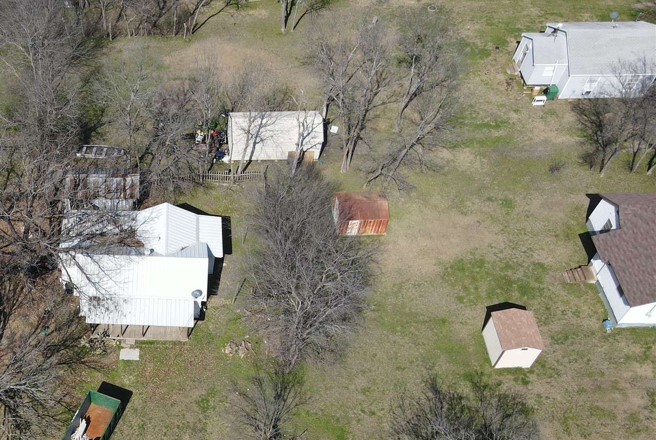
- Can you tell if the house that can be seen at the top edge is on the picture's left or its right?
right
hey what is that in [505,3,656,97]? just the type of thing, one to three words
house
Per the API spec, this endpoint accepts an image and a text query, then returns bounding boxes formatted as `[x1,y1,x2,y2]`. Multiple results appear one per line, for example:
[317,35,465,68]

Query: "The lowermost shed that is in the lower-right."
[477,307,548,369]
